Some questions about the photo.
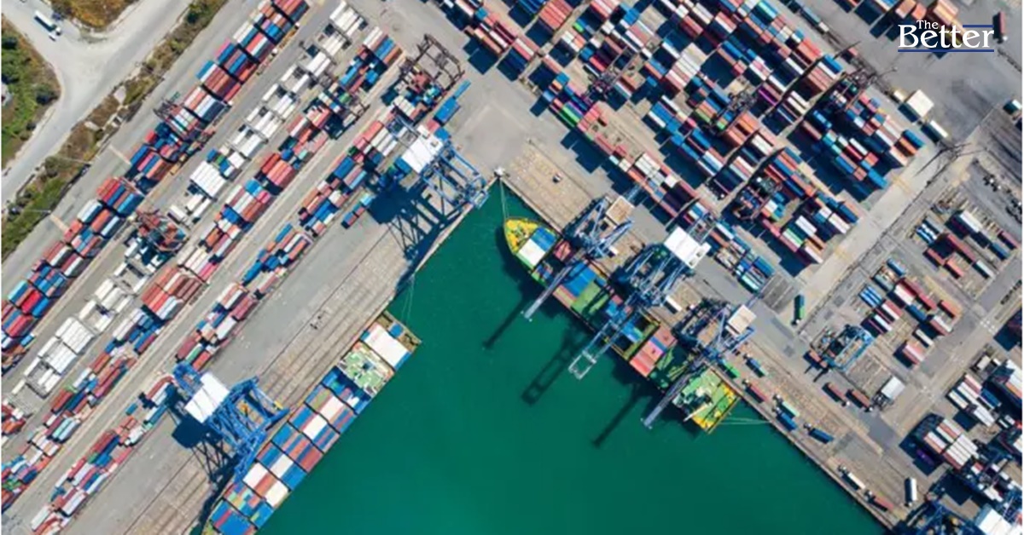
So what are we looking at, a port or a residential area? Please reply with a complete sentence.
This looks like a port.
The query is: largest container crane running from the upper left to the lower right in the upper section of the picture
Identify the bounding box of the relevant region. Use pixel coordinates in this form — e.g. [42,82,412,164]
[387,134,485,225]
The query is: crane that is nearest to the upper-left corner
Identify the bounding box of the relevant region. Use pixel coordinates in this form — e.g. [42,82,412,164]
[157,97,224,153]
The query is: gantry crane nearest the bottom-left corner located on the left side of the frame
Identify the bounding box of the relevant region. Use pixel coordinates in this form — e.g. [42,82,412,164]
[176,372,292,498]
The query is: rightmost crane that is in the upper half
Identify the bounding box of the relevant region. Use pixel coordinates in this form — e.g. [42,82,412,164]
[809,63,877,125]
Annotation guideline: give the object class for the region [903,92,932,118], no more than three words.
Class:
shed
